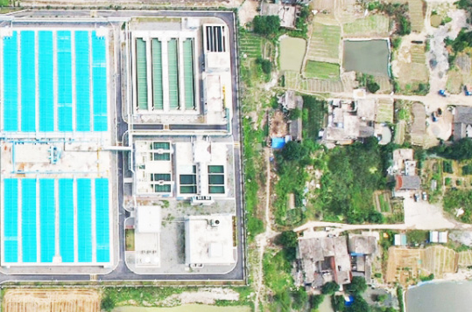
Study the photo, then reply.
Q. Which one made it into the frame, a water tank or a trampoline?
water tank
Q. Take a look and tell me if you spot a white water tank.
Yes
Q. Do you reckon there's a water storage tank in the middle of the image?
Yes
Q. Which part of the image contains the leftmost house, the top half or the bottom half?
bottom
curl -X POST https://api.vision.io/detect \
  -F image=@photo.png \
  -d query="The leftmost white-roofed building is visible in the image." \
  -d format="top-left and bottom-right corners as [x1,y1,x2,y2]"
[134,233,160,268]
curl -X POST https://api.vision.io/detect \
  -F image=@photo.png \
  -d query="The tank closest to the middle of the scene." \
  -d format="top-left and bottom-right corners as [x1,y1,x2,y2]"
[174,135,229,200]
